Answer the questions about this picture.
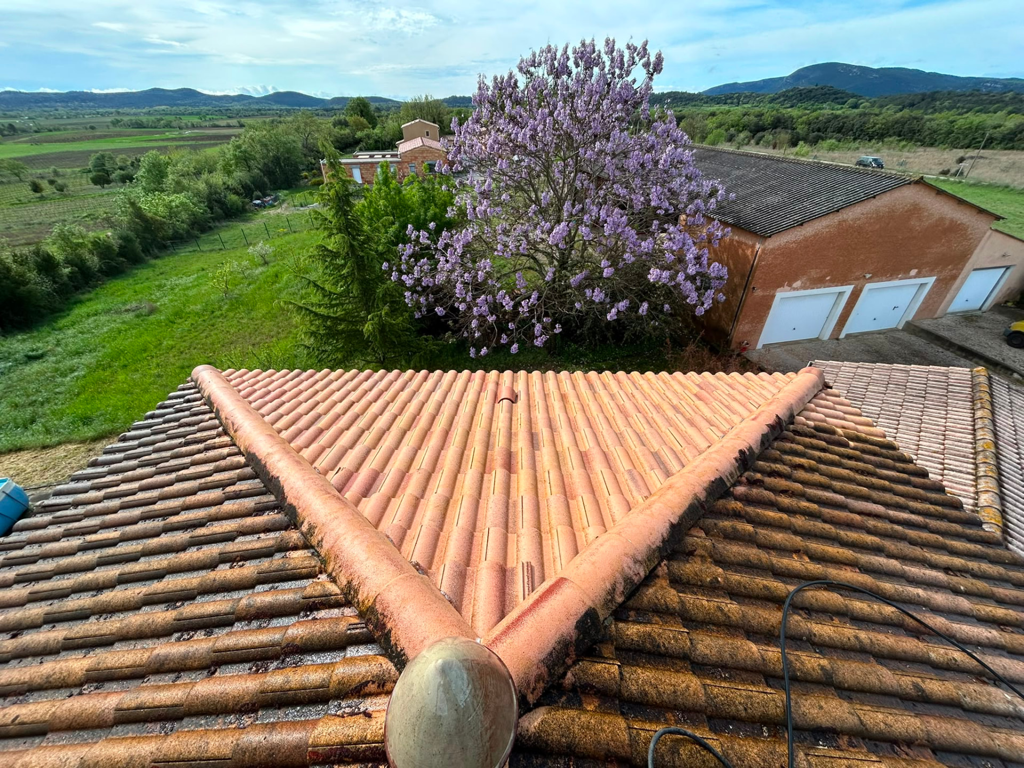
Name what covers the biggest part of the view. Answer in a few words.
buildings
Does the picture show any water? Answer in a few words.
No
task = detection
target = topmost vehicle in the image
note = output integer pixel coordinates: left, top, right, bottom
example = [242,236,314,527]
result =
[853,151,891,167]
